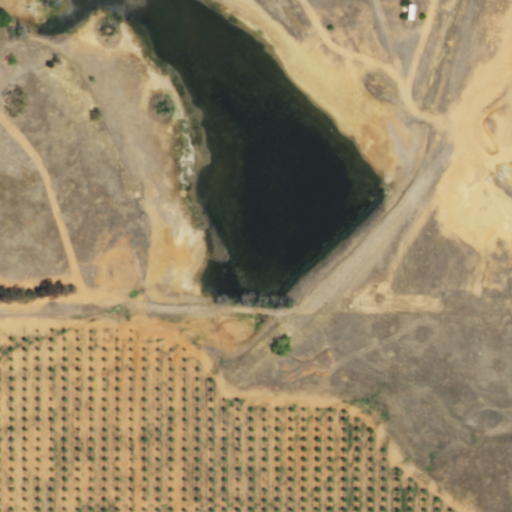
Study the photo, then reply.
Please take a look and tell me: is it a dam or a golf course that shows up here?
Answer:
dam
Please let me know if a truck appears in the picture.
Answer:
No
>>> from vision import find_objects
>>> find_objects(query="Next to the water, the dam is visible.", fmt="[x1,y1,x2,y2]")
[128,140,442,319]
